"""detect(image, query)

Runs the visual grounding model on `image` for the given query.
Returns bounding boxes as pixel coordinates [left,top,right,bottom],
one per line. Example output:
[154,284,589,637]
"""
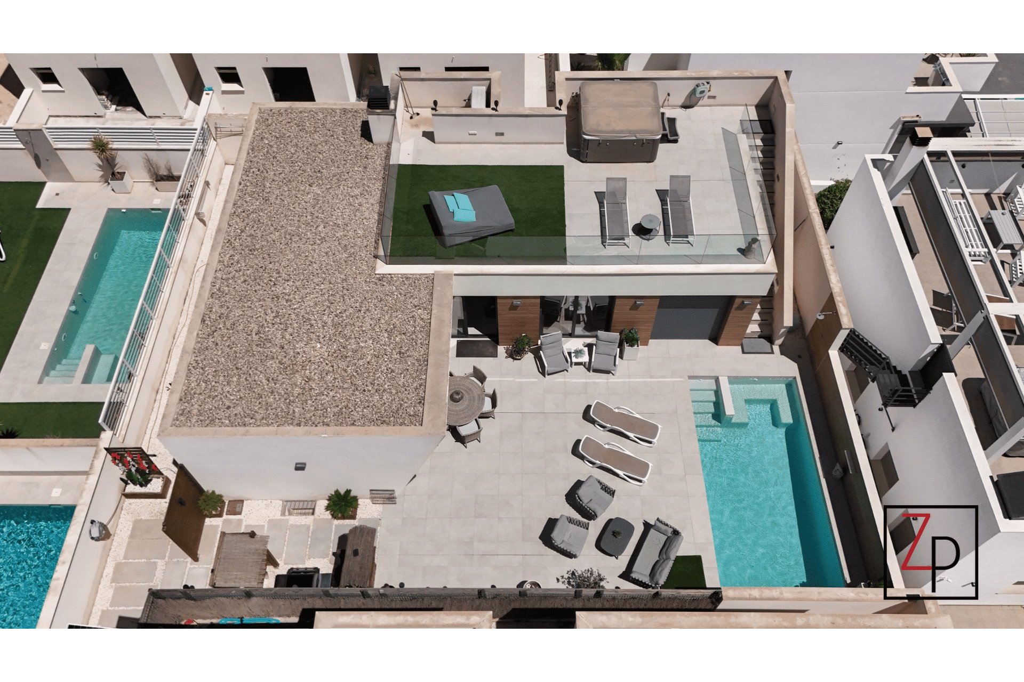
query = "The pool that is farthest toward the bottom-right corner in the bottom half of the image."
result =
[689,375,845,587]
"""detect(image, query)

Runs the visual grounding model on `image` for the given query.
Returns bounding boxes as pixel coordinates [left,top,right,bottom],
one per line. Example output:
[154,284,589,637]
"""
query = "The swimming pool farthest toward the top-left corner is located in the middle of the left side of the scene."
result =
[38,209,185,384]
